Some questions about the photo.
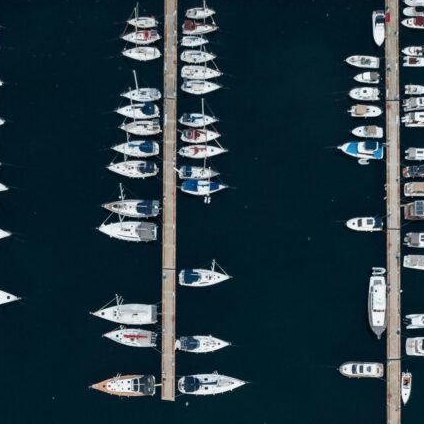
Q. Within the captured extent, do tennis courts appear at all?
No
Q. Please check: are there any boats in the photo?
Yes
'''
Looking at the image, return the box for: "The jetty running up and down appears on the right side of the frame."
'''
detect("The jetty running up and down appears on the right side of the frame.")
[384,0,400,424]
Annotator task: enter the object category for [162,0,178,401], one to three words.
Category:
pier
